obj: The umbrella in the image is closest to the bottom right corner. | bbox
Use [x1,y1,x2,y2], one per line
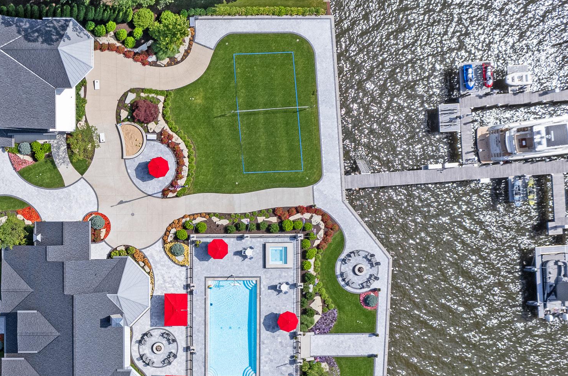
[276,310,298,333]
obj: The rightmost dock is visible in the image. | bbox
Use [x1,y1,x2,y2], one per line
[545,173,568,235]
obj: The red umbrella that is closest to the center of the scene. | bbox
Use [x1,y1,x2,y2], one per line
[207,239,227,258]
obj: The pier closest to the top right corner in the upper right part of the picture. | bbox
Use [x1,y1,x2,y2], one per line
[502,65,530,94]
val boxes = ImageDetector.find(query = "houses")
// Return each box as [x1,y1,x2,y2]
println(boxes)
[0,16,94,149]
[0,221,150,376]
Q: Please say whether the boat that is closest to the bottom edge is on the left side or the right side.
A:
right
